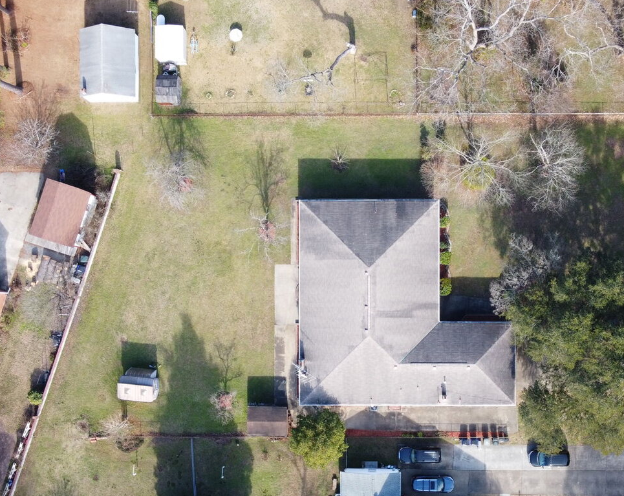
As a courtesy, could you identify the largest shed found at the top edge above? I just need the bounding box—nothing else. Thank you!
[78,24,141,102]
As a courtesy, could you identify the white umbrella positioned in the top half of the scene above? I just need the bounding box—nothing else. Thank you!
[231,28,244,43]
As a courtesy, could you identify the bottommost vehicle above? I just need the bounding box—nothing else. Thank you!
[413,477,454,496]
